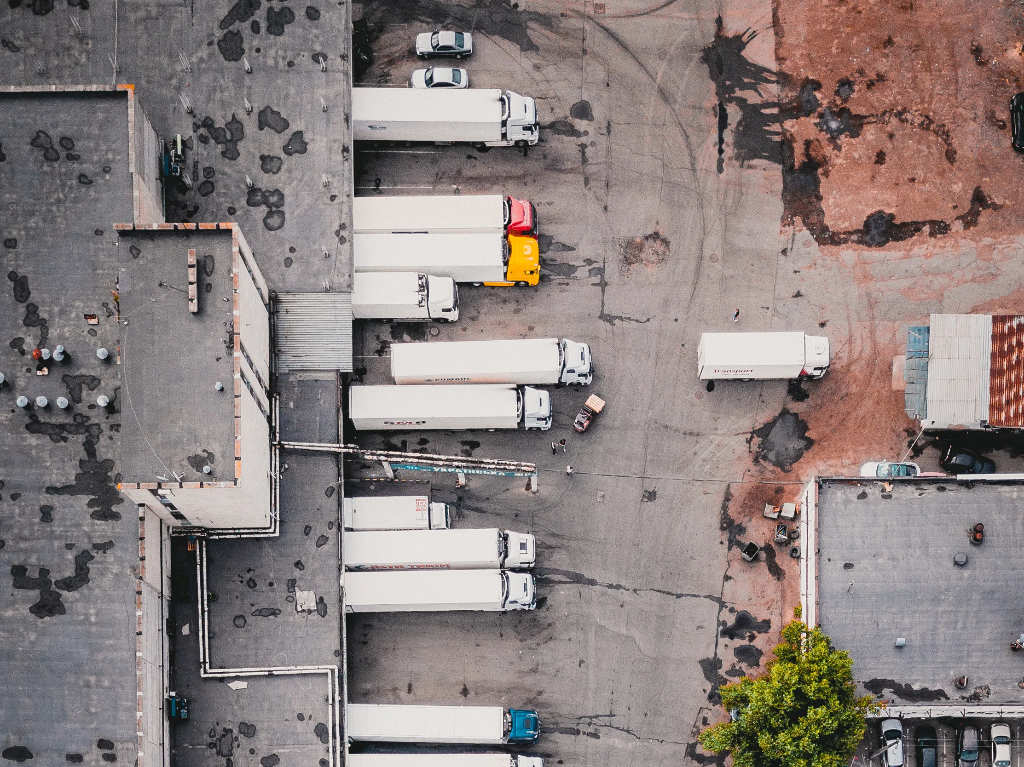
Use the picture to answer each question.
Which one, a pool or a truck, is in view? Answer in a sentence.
Of the two, only a truck appears.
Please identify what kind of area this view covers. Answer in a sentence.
What you see here is an industrial area.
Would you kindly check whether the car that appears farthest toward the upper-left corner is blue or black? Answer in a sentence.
The color of the car that appears farthest toward the upper-left corner is black.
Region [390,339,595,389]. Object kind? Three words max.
truck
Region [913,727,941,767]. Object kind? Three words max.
car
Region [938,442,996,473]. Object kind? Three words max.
car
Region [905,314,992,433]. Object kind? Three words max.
shed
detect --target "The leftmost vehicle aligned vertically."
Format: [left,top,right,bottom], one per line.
[352,15,378,73]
